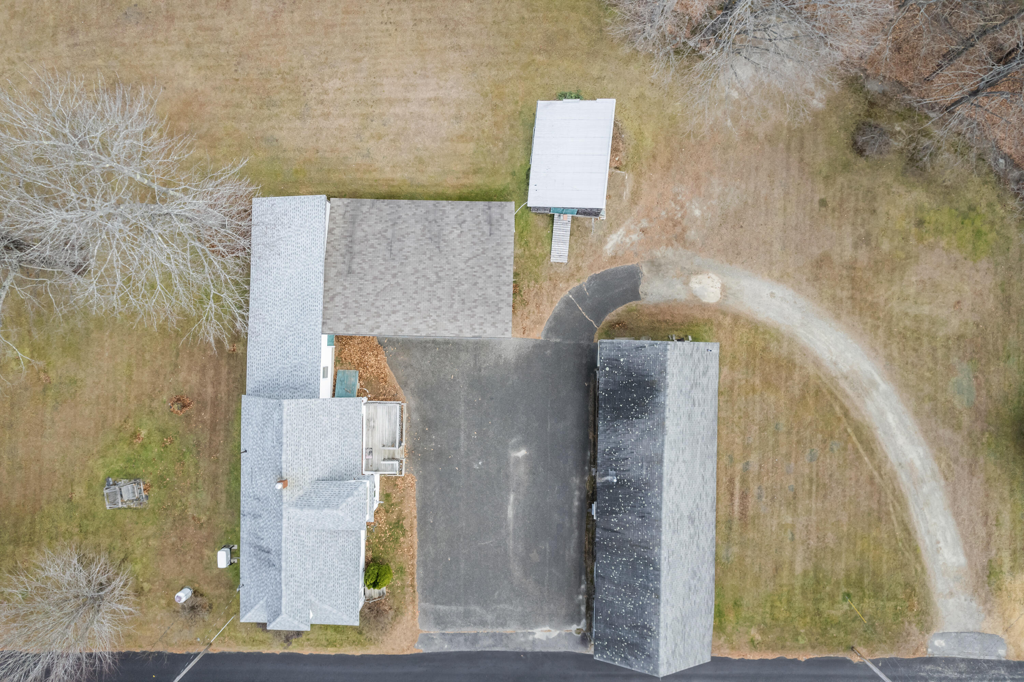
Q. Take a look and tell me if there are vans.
No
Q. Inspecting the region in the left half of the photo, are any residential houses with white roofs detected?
Yes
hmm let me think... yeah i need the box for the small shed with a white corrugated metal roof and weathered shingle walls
[528,98,615,219]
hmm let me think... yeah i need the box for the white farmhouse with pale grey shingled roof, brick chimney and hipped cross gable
[237,195,382,631]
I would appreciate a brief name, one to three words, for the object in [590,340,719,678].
barn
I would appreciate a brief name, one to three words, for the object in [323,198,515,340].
building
